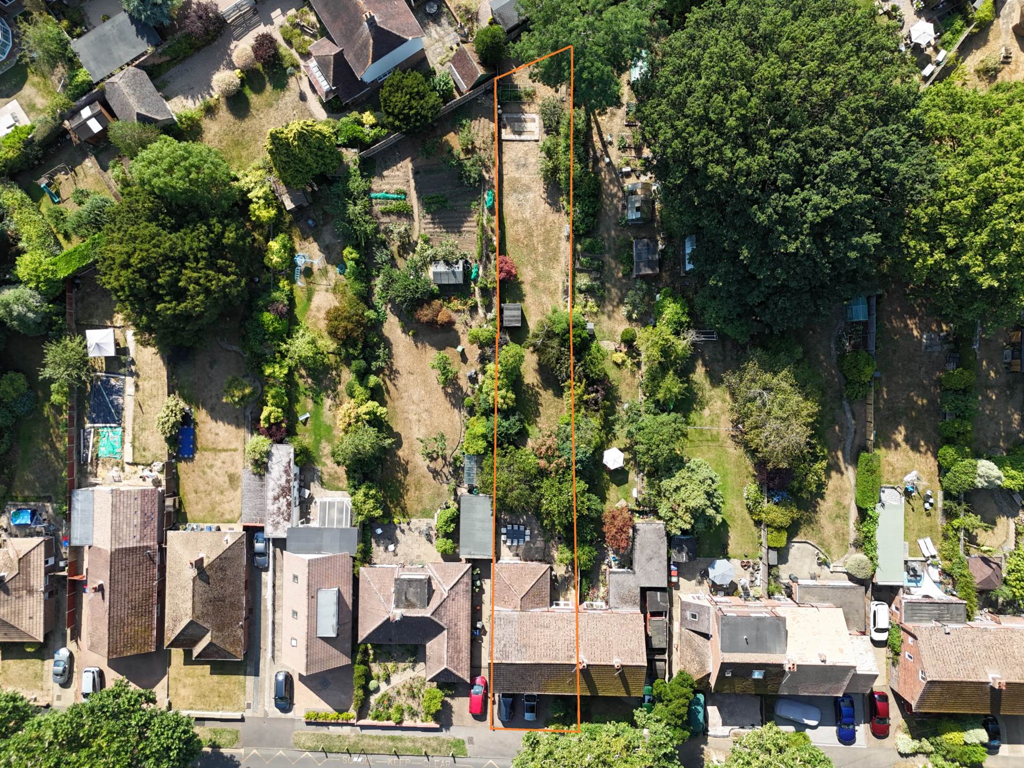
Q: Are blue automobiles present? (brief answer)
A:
Yes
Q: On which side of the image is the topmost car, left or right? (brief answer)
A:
left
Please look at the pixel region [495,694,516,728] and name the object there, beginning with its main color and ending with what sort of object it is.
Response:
black car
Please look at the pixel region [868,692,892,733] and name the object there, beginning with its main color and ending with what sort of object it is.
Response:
red car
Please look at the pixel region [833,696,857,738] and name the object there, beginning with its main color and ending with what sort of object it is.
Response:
blue car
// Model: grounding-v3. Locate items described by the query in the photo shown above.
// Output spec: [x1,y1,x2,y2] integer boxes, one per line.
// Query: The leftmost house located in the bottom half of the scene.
[0,535,58,642]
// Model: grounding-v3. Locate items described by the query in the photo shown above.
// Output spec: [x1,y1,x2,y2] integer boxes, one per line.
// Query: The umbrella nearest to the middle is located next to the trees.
[603,446,624,470]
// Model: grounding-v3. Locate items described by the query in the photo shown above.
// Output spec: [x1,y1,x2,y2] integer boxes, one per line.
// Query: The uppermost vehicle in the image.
[250,530,271,570]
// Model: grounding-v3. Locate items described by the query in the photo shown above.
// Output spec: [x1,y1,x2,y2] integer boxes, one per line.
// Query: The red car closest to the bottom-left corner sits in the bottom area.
[468,674,488,716]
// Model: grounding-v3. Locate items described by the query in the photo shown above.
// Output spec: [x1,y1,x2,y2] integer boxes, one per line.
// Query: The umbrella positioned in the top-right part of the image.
[907,19,935,46]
